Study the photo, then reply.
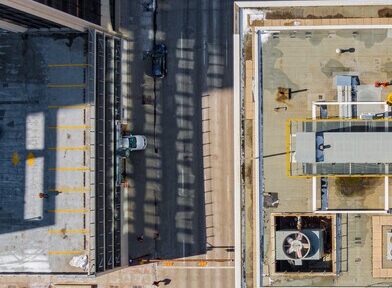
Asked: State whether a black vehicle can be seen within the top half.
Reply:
Yes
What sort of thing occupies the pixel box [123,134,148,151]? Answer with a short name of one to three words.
vehicle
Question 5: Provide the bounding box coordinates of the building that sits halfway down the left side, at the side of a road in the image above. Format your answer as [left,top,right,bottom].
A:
[0,28,123,276]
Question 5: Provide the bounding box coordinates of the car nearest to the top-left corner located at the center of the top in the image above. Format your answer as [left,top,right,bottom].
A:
[150,44,167,78]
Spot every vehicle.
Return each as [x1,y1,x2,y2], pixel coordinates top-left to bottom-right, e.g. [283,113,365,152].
[150,44,167,78]
[123,134,148,151]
